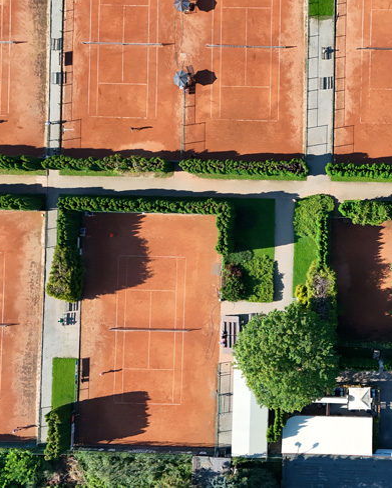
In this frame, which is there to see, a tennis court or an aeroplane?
tennis court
